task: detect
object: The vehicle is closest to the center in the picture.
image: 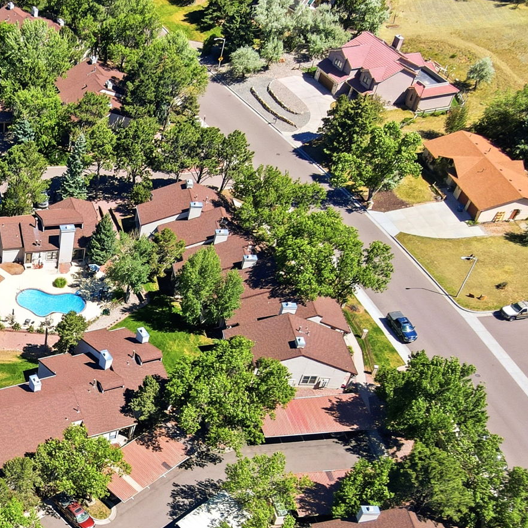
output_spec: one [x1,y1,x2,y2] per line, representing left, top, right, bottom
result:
[386,310,421,344]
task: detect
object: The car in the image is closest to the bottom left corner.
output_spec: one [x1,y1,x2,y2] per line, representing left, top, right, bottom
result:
[55,494,92,528]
